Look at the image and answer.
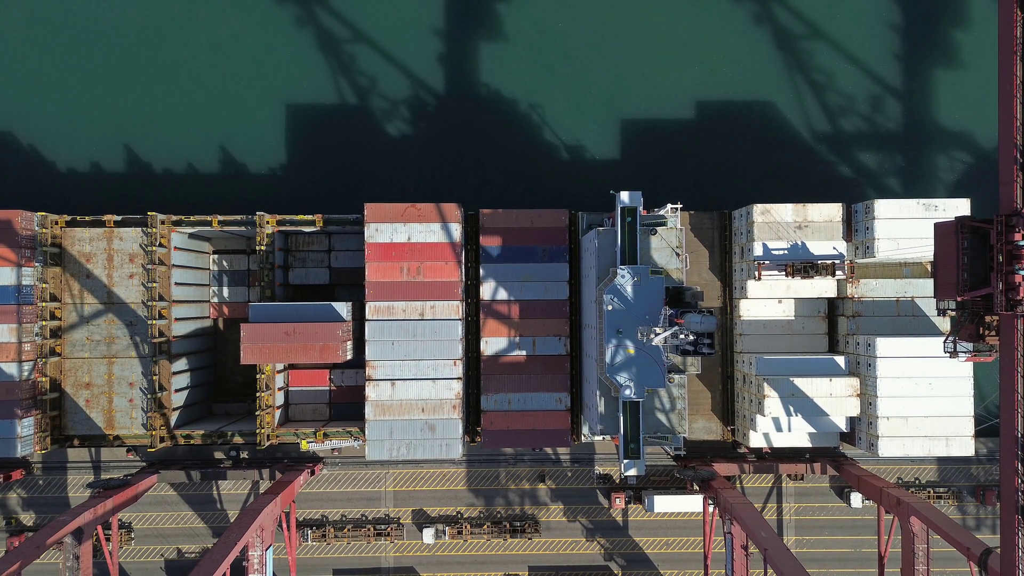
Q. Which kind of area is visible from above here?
port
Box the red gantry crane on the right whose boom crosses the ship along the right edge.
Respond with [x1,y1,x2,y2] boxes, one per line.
[666,0,1024,576]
